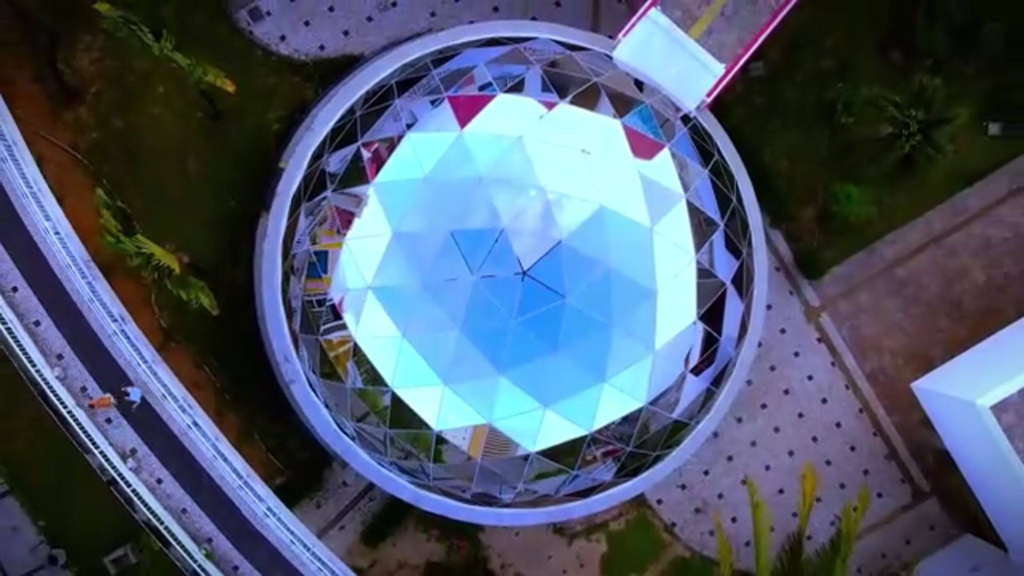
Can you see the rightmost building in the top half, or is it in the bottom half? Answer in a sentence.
Seen from above, the rightmost building lies in the bottom half of the view.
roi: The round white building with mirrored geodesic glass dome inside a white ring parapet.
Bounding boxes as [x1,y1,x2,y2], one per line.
[255,19,769,524]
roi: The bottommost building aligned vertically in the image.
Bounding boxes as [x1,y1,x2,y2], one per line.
[911,318,1024,576]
